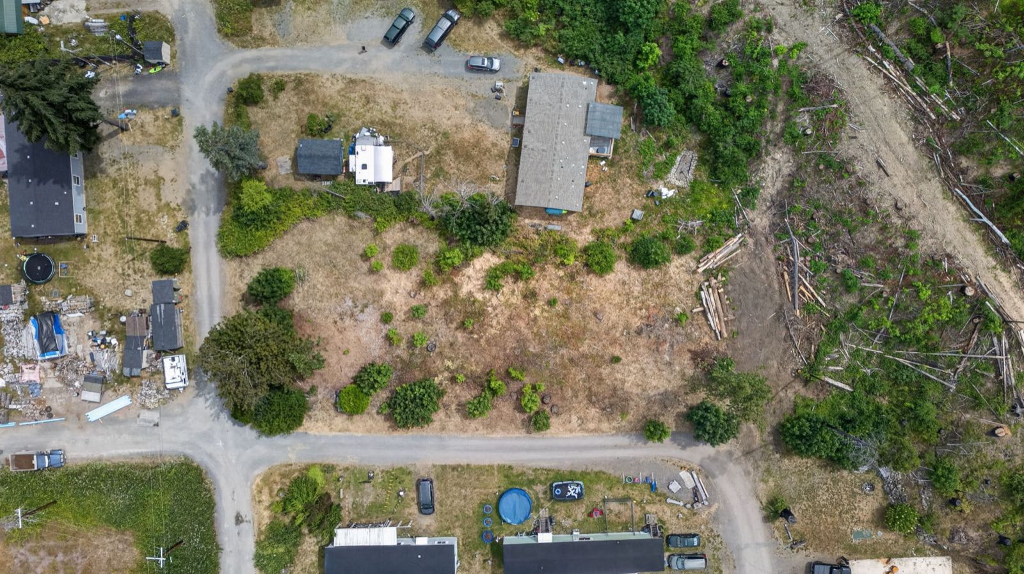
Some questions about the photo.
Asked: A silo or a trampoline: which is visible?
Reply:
trampoline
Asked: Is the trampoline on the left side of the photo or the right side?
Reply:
left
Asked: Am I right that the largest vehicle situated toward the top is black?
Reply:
No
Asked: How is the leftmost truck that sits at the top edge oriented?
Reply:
on a diagonal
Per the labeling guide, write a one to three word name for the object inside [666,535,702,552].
car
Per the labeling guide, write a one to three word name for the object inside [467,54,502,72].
car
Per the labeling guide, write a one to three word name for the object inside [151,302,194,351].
shed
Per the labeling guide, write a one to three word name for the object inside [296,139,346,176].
shed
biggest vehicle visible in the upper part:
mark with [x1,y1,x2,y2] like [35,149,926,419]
[349,135,395,187]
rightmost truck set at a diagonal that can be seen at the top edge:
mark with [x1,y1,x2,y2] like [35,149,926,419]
[423,7,459,50]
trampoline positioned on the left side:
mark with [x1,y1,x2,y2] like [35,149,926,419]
[19,253,53,284]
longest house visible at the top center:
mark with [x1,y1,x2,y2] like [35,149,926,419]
[516,72,597,212]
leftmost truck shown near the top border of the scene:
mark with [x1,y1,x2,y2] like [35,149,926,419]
[382,7,414,46]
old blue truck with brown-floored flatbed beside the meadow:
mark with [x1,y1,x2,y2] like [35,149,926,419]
[2,451,63,473]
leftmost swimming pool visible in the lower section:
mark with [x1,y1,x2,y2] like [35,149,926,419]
[498,490,533,526]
